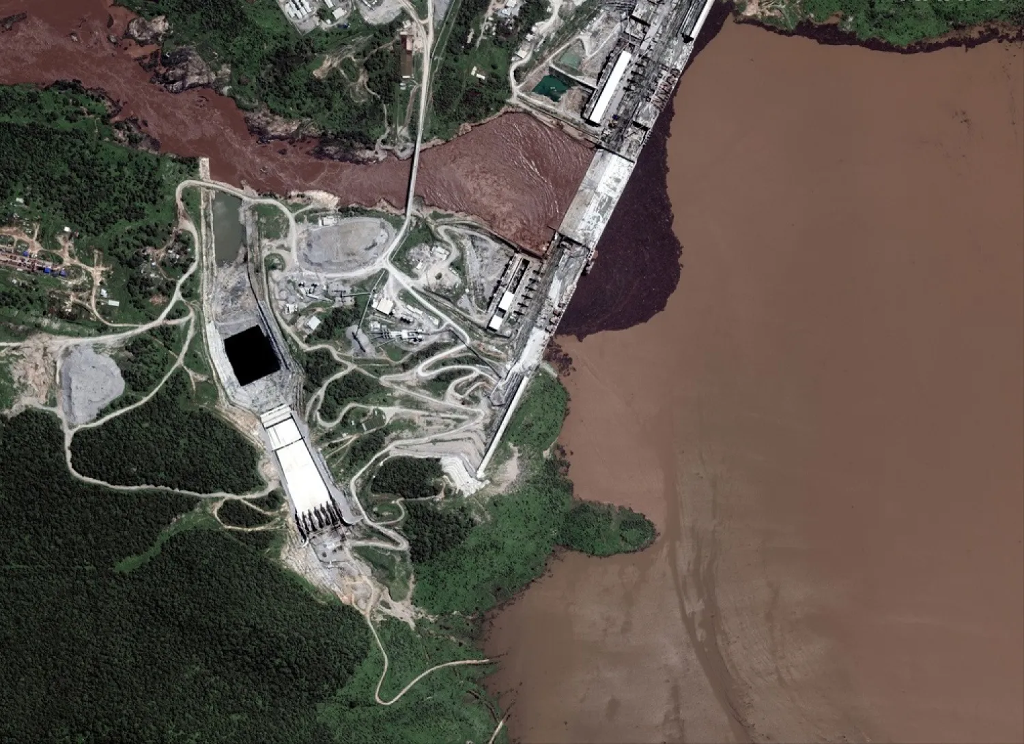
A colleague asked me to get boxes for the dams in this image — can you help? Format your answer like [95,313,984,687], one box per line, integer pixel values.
[473,0,715,479]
